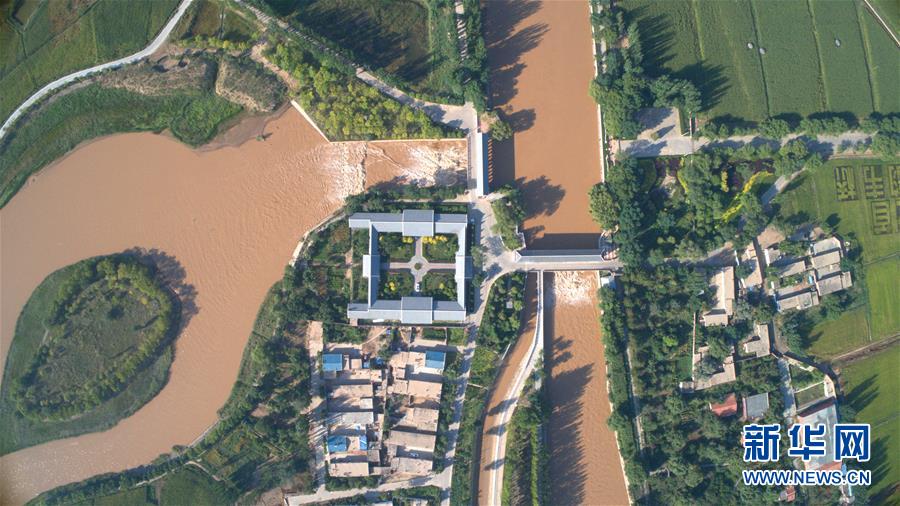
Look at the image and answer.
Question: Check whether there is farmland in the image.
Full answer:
Yes, there's farmland in this view.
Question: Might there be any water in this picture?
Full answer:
Yes, some water is visible.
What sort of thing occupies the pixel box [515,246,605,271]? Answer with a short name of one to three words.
bridge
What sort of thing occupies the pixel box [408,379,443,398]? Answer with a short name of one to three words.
house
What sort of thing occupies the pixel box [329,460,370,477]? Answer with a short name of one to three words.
house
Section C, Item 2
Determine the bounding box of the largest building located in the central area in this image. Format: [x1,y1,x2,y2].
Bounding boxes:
[348,210,473,323]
